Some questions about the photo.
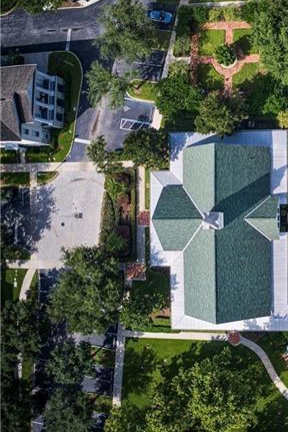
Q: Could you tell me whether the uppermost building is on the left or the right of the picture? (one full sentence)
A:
The uppermost building is on the left side of the image.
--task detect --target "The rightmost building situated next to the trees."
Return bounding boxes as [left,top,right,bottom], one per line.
[150,130,288,330]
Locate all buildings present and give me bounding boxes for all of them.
[150,130,288,330]
[0,63,67,152]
